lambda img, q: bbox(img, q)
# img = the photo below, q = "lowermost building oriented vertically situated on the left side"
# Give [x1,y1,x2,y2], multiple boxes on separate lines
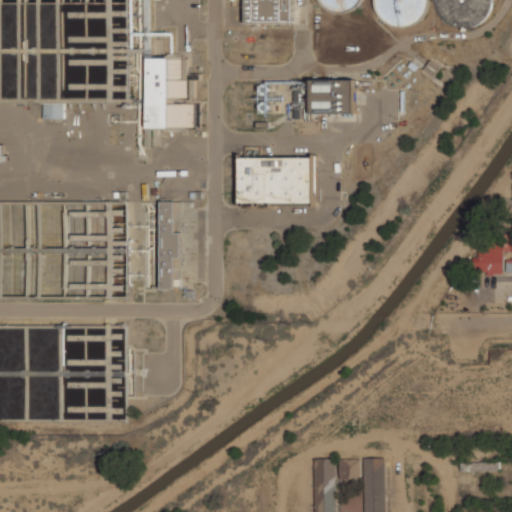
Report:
[158,202,178,288]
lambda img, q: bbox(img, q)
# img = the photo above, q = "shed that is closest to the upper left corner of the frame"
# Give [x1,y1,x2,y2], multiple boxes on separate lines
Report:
[42,104,66,119]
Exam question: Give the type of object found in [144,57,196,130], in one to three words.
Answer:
building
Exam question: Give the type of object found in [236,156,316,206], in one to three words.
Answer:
building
